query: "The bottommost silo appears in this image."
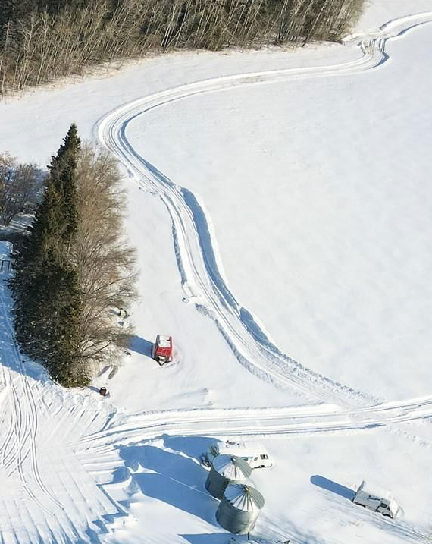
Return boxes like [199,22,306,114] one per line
[215,482,266,535]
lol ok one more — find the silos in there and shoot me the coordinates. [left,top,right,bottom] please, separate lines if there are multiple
[215,482,266,535]
[204,454,253,501]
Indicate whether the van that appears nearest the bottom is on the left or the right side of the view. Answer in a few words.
right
